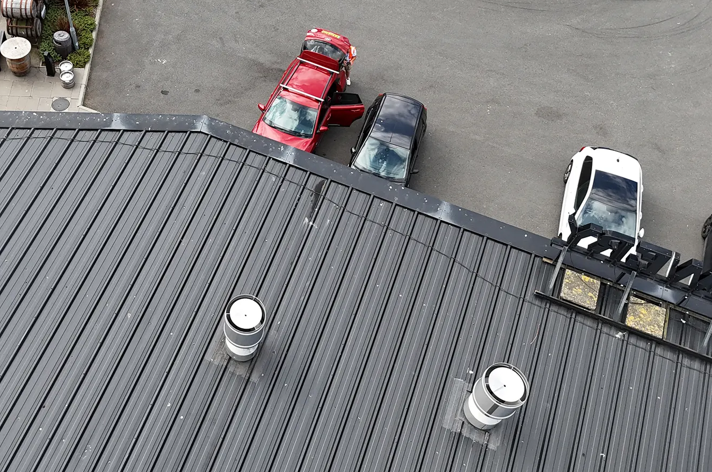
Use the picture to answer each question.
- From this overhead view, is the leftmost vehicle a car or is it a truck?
car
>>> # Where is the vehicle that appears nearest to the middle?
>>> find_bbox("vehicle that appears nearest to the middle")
[344,88,432,194]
